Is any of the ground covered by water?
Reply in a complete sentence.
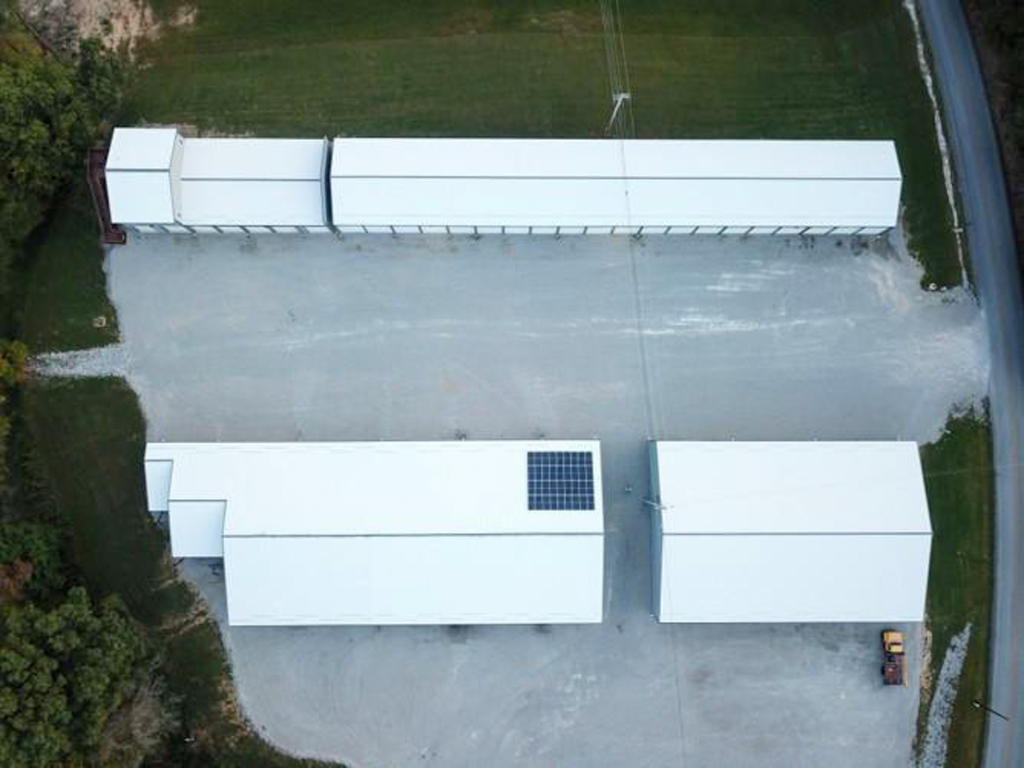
No, water can't be seen anywhere here.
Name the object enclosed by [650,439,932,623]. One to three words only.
barn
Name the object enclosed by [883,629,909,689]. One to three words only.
truck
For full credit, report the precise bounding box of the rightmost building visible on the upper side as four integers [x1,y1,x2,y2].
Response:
[330,137,901,238]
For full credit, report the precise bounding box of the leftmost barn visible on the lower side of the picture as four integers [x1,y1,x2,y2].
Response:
[144,439,604,626]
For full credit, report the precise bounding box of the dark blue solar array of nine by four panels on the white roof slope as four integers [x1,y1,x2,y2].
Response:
[527,452,594,510]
